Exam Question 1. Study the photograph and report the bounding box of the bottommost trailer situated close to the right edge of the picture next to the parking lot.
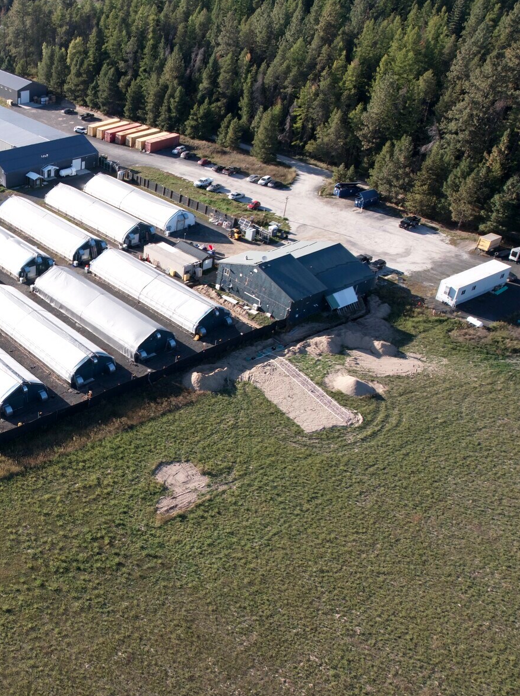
[437,257,518,306]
